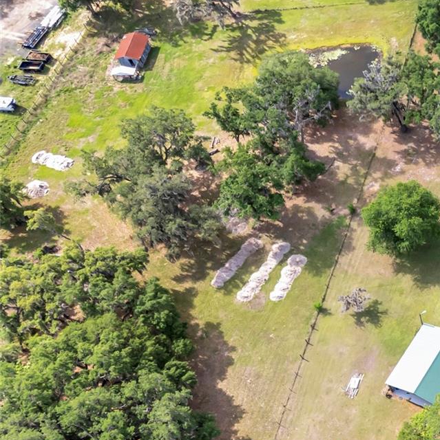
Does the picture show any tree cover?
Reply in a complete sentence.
Yes, tree cover shows up in the scene.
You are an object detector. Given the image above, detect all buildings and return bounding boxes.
[385,325,440,415]
[112,29,154,74]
